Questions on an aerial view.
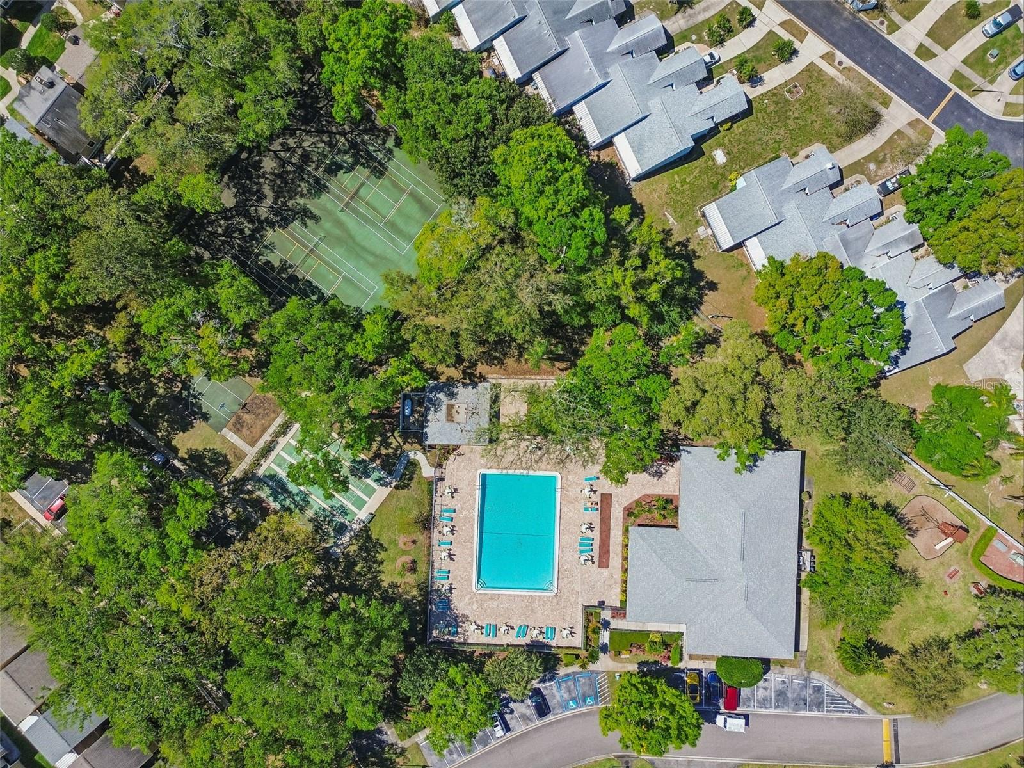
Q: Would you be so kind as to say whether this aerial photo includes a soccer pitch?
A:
No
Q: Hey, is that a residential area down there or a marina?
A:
residential area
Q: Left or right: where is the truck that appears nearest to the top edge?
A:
right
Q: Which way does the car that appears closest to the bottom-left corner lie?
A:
on a diagonal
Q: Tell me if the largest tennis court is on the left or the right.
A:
left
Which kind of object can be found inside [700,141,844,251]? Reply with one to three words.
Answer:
house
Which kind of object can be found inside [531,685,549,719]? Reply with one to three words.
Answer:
car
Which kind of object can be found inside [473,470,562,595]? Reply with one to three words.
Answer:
swimming pool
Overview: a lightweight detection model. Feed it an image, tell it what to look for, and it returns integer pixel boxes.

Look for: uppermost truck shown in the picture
[983,4,1024,37]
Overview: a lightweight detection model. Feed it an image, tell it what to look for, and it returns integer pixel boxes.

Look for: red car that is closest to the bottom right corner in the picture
[724,686,739,713]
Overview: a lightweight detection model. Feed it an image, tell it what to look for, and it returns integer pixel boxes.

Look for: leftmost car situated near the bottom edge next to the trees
[488,707,509,740]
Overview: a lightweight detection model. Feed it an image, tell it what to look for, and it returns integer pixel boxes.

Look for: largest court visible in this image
[177,62,486,362]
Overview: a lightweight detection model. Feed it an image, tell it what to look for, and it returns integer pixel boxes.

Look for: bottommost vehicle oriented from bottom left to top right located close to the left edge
[42,493,70,523]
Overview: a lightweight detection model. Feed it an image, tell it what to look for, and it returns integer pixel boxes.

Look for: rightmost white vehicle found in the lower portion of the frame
[715,713,748,734]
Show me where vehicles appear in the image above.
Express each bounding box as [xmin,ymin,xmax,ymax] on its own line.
[42,493,70,523]
[686,671,701,702]
[715,713,748,734]
[1008,59,1024,79]
[706,670,721,703]
[724,686,739,713]
[531,685,549,719]
[983,4,1024,37]
[488,707,509,740]
[875,166,914,196]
